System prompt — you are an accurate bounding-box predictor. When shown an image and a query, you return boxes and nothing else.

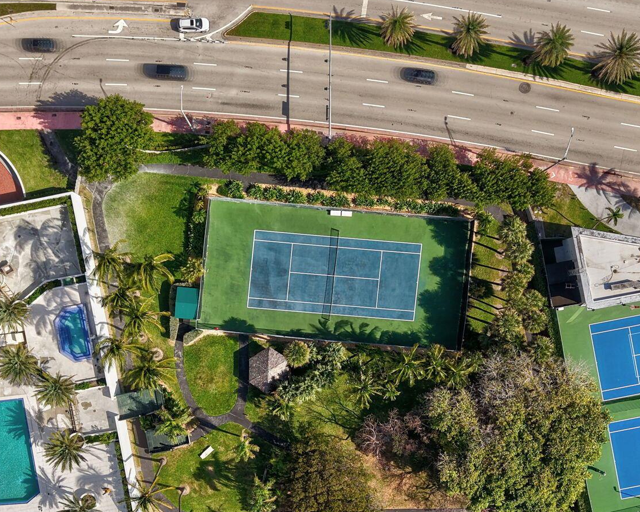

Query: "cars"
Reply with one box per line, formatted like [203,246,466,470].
[401,68,435,86]
[177,17,211,34]
[147,63,185,81]
[23,37,56,54]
